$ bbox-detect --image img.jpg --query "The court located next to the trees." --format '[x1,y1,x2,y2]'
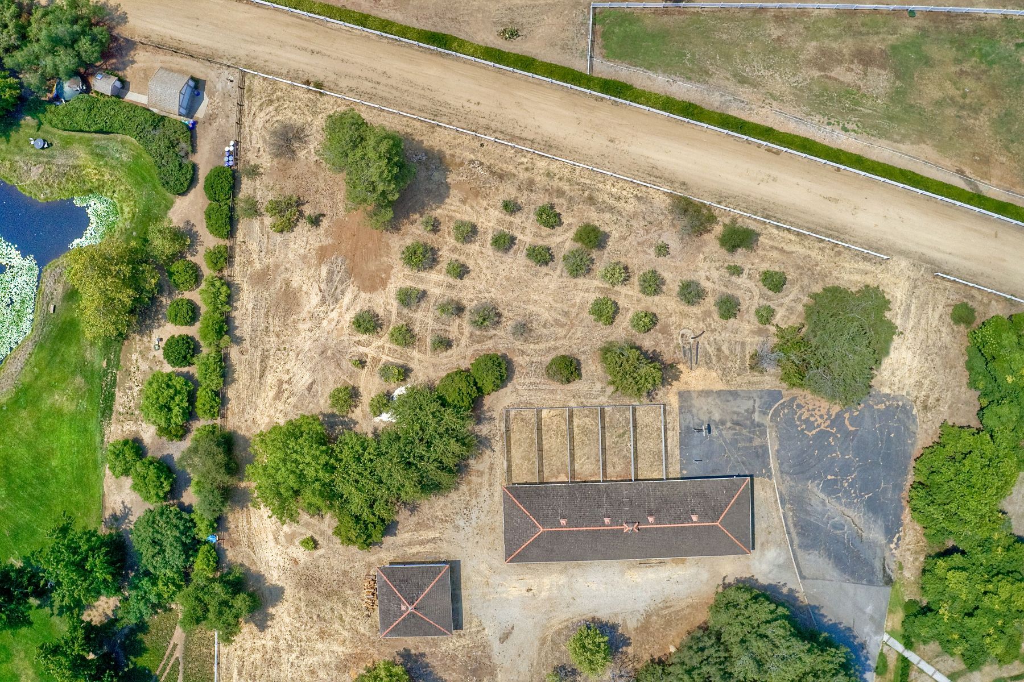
[679,390,783,479]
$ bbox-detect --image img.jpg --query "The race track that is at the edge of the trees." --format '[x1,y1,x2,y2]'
[36,0,1024,303]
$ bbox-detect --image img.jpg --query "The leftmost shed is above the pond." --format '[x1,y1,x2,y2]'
[91,73,121,97]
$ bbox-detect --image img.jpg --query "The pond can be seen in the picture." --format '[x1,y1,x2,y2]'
[0,181,115,366]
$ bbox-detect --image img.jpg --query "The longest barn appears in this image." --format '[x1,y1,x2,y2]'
[502,476,753,564]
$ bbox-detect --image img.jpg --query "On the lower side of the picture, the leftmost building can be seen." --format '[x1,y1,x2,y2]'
[376,562,453,638]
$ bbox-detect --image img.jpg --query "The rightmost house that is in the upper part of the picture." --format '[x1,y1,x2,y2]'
[147,65,193,118]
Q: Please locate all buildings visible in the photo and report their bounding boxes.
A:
[502,476,753,564]
[91,73,121,97]
[147,65,193,118]
[376,562,453,638]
